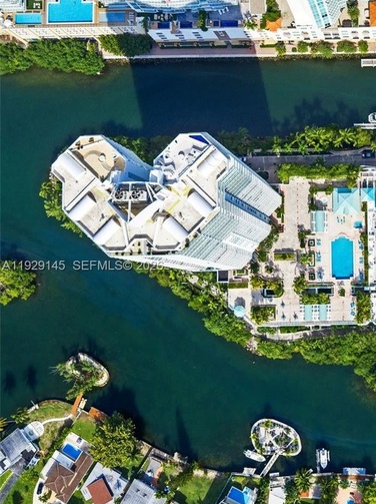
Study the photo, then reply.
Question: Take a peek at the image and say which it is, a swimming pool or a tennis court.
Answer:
swimming pool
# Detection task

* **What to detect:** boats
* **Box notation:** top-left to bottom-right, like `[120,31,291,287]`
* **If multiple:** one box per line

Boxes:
[320,446,328,469]
[367,112,376,122]
[79,396,89,410]
[241,447,267,460]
